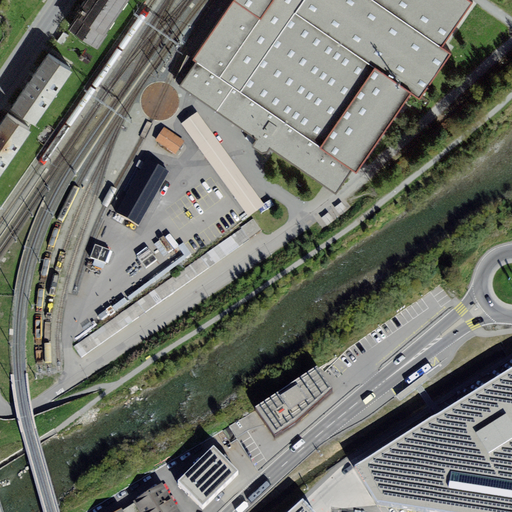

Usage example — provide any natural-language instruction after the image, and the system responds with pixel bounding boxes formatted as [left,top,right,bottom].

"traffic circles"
[472,242,512,326]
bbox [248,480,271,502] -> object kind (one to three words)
truck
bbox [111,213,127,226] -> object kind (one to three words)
vehicle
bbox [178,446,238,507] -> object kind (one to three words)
building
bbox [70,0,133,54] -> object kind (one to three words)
house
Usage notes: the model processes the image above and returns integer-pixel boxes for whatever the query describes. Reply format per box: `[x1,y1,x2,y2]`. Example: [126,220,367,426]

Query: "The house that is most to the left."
[0,114,30,181]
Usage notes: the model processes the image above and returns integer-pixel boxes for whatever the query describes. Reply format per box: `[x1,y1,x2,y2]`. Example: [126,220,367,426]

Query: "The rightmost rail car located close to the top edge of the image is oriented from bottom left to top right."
[118,4,152,48]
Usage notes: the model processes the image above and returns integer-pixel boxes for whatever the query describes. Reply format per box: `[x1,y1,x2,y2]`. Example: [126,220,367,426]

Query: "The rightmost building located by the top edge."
[180,0,472,196]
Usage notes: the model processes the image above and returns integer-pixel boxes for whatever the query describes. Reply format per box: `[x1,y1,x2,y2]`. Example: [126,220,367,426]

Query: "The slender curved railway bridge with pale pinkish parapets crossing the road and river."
[11,370,60,512]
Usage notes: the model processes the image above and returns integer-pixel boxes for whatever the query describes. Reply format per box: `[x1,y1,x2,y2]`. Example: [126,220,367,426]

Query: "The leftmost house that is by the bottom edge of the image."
[117,480,182,512]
